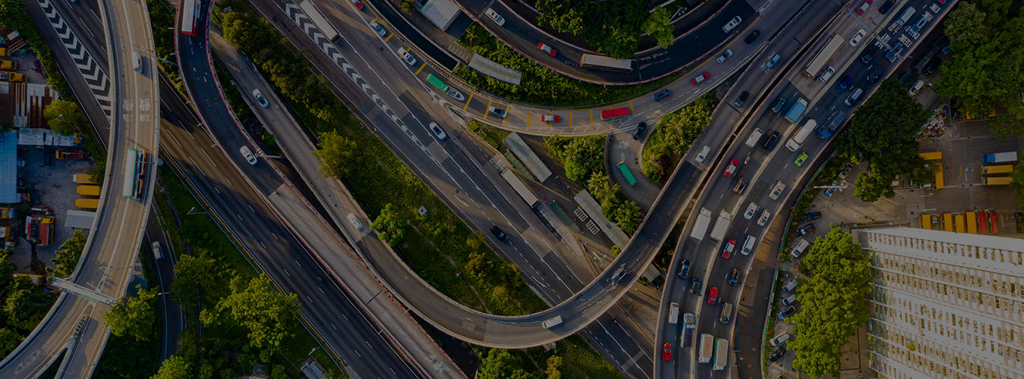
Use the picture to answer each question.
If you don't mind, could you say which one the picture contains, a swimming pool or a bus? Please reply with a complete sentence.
Looking from above, you can make out a bus.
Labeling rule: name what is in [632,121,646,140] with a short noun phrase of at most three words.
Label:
car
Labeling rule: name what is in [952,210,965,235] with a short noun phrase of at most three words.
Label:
vehicle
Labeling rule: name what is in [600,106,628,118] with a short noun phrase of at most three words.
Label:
vehicle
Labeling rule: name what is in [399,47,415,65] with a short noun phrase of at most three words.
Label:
car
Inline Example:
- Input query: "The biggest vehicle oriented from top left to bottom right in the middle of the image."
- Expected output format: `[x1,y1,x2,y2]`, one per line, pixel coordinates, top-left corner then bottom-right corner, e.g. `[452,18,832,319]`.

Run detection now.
[499,166,542,208]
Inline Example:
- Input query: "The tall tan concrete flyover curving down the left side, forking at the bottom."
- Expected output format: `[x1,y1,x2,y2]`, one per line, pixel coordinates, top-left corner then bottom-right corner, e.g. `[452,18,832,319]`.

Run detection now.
[0,0,161,379]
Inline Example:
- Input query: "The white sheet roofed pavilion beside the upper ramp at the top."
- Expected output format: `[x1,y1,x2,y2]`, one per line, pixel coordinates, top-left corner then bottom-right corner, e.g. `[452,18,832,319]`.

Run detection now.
[420,0,461,34]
